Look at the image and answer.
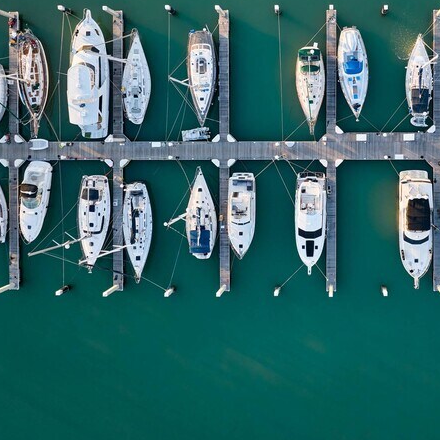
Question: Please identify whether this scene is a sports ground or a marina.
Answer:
marina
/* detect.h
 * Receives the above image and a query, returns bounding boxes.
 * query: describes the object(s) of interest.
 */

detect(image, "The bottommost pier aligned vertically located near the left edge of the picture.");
[8,160,21,291]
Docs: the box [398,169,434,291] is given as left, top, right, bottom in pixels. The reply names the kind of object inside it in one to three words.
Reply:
boat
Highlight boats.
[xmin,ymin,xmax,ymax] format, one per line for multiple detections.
[19,161,56,243]
[0,65,8,125]
[84,182,153,282]
[296,42,326,134]
[182,126,210,140]
[226,172,257,260]
[166,166,219,258]
[0,181,10,244]
[28,138,50,149]
[172,25,218,127]
[410,115,429,126]
[31,174,114,270]
[0,28,53,137]
[86,29,153,123]
[336,25,371,121]
[293,170,328,277]
[398,169,434,291]
[405,34,440,115]
[59,8,116,138]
